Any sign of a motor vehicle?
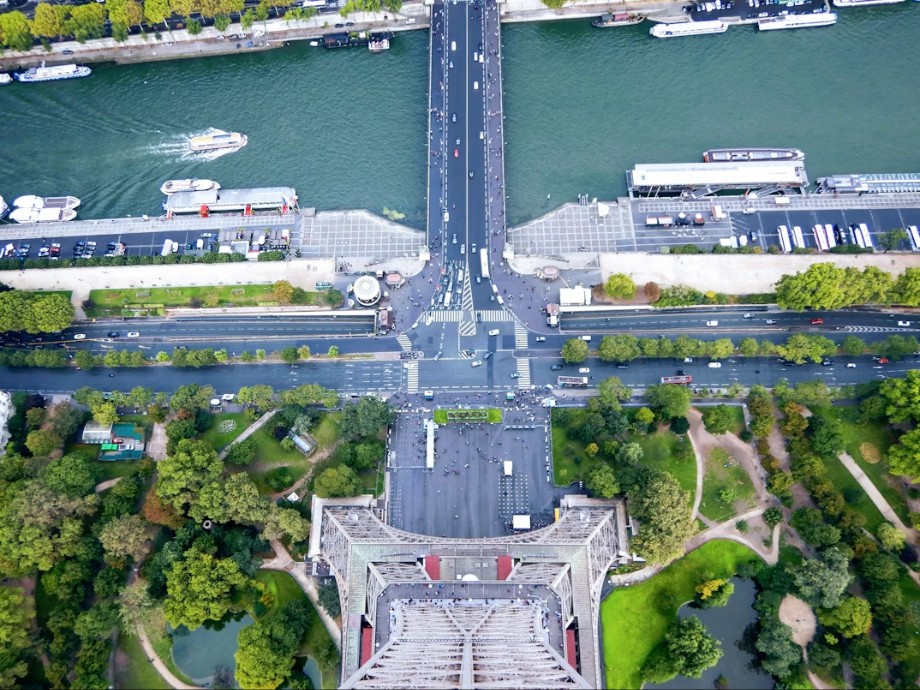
Yes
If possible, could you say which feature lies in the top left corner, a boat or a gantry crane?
boat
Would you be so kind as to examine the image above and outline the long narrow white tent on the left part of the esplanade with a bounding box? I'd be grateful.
[422,414,438,473]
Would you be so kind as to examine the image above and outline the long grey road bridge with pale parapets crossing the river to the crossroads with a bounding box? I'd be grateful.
[427,3,506,264]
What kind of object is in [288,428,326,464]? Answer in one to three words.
building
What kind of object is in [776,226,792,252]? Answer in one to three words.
vehicle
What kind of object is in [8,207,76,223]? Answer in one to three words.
boat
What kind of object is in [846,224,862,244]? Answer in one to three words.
vehicle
